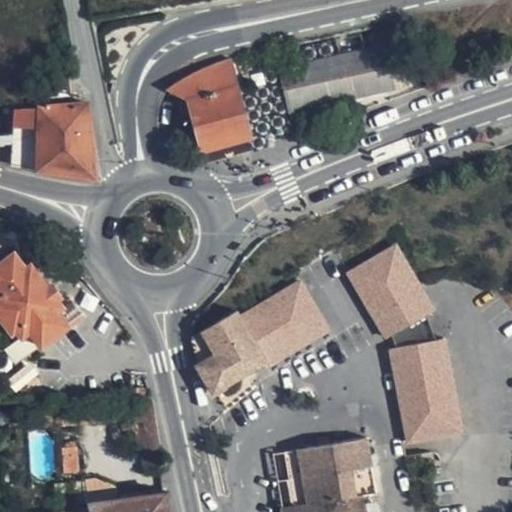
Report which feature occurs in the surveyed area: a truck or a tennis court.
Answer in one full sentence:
It is a truck that can be seen here.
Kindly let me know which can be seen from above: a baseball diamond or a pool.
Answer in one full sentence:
Visible in the photo is a pool.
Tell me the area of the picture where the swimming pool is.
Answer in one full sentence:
Look in the bottom left portion of the view to spot the swimming pool.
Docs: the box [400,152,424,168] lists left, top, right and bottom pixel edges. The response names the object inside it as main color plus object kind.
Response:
white car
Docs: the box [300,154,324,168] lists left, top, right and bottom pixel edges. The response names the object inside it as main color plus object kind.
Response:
white car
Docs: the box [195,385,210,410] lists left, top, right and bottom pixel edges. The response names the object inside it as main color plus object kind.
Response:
white vehicle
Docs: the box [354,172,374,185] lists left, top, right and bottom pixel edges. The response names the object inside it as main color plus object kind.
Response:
white vehicle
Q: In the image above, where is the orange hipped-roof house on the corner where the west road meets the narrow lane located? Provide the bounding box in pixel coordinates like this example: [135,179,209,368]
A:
[12,102,98,182]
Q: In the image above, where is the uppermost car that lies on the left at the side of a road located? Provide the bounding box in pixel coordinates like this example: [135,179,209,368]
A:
[160,103,172,126]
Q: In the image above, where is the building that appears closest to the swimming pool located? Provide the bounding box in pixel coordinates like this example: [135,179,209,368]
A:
[62,442,80,474]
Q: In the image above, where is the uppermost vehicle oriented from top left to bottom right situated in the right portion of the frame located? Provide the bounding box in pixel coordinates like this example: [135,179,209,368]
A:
[321,256,341,280]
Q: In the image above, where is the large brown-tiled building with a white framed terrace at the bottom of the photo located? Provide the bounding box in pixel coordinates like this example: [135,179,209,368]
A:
[272,438,381,512]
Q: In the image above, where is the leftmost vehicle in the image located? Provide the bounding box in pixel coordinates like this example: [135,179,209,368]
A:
[38,358,61,370]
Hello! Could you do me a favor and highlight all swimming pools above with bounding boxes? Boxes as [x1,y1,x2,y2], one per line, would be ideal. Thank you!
[28,429,56,482]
